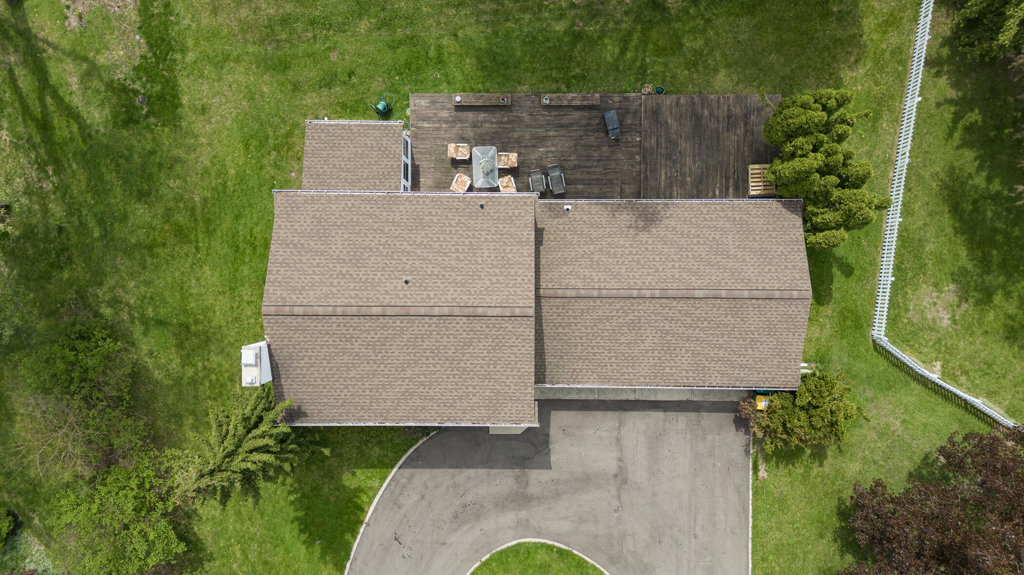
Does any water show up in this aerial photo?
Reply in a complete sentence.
No, there is no water in the image.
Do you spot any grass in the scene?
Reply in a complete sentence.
Yes, grass shows up in the scene.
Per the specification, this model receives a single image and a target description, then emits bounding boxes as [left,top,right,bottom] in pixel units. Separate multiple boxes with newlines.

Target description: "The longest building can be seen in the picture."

[242,119,813,434]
